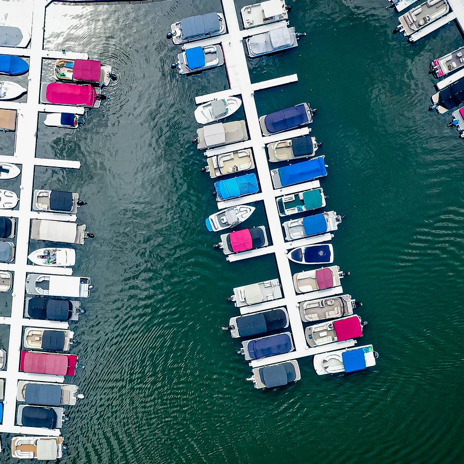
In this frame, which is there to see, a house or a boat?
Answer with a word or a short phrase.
boat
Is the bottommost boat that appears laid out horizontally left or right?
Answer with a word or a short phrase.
left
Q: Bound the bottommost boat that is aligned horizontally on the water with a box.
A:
[10,434,72,461]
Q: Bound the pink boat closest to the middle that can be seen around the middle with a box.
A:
[214,223,274,254]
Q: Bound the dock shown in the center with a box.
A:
[181,0,358,369]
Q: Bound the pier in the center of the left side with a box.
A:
[0,2,90,437]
